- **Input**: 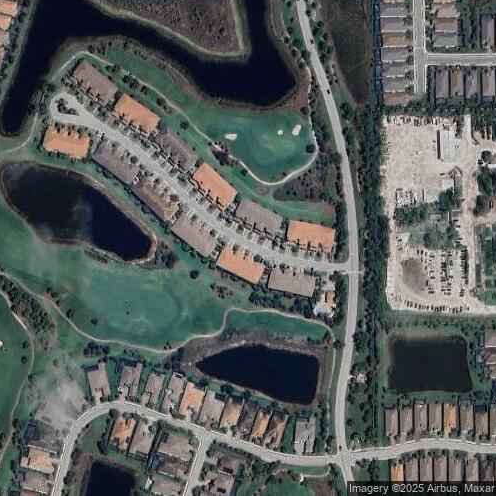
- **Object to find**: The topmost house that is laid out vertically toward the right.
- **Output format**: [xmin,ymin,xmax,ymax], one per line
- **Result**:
[481,15,495,47]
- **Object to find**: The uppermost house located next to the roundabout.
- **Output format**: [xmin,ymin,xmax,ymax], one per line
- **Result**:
[71,61,120,103]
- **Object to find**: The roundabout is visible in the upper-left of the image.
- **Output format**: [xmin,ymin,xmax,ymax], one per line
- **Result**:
[51,93,105,132]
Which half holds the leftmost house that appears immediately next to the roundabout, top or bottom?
top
